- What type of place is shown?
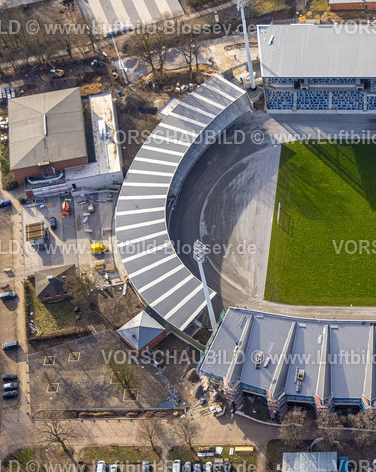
sports ground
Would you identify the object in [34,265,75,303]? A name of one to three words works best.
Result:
house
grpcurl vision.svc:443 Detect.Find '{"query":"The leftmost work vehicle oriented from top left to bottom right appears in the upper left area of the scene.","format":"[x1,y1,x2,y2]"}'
[47,57,63,78]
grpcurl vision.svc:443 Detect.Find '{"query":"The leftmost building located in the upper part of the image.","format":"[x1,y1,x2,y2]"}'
[5,88,89,181]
